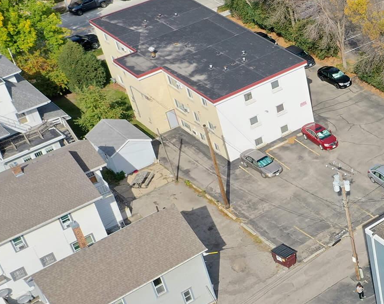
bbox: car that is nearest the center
[240,148,283,178]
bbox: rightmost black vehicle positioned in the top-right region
[316,66,353,89]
